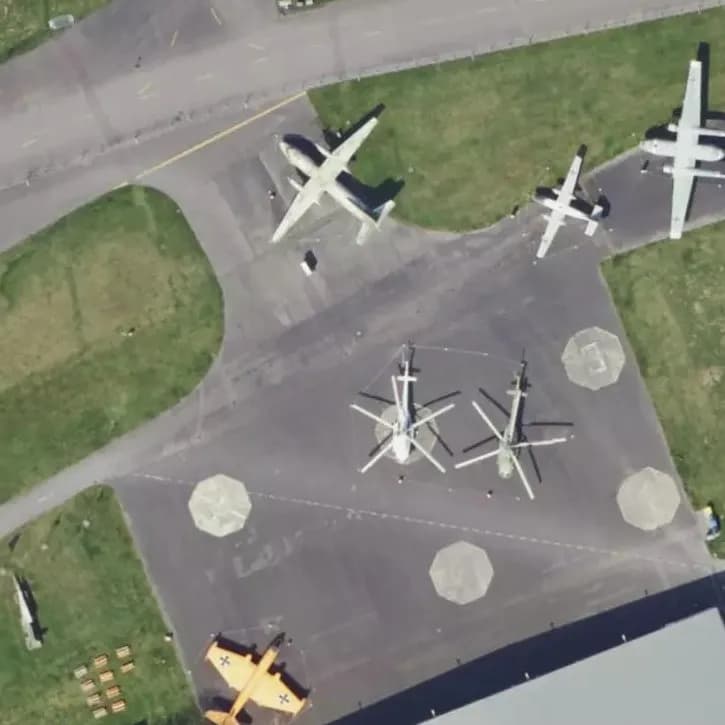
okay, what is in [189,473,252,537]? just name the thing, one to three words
helipad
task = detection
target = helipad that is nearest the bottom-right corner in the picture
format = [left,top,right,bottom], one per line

[617,467,680,530]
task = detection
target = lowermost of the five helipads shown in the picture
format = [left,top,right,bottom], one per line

[430,541,493,604]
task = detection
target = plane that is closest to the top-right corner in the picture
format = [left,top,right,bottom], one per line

[640,62,725,238]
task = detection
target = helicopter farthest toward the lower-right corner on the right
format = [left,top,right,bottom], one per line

[456,367,567,498]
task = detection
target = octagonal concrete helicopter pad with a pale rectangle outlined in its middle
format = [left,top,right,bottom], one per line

[562,326,625,389]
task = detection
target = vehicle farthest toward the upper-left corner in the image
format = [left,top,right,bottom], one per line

[49,16,74,28]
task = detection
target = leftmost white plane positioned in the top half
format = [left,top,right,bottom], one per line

[271,118,395,245]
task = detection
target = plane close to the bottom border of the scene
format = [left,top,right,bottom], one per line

[203,633,306,725]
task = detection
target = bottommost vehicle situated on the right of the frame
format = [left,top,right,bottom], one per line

[704,507,720,541]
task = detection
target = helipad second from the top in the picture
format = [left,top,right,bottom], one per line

[375,400,438,462]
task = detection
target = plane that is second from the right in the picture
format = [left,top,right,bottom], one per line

[532,156,603,257]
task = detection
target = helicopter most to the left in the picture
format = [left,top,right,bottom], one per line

[352,353,455,472]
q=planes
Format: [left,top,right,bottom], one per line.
[271,118,395,245]
[532,156,603,257]
[203,633,306,725]
[640,62,725,238]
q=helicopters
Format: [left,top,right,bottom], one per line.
[352,353,455,472]
[456,367,567,498]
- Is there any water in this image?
No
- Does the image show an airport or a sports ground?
airport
